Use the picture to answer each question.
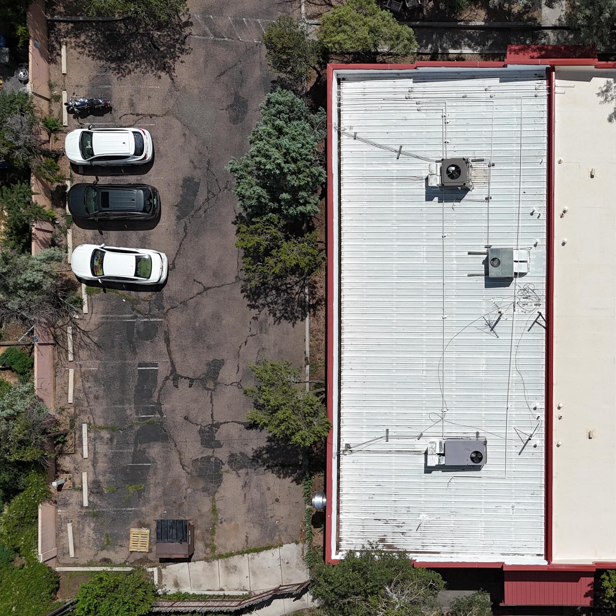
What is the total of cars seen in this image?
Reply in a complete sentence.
I count 3 cars.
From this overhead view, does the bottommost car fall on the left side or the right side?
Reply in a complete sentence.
The bottommost car appears in the left half of the scene.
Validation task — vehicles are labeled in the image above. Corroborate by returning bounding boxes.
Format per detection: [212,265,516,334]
[72,241,168,286]
[67,179,161,225]
[66,124,155,168]
[66,86,113,113]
